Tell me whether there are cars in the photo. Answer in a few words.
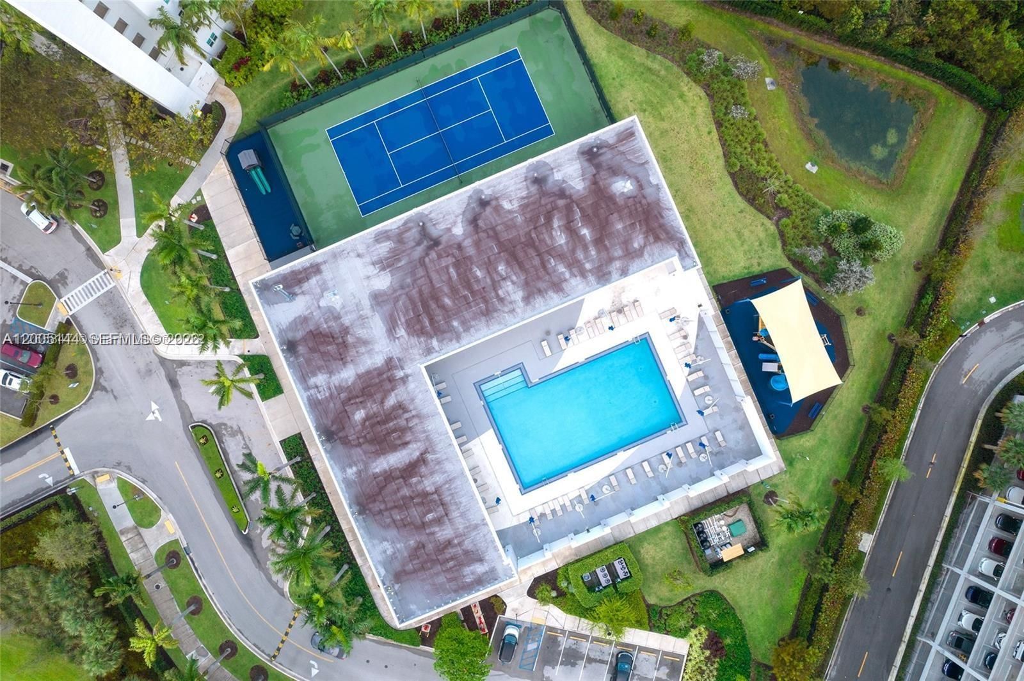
Yes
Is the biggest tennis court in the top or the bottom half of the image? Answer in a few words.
top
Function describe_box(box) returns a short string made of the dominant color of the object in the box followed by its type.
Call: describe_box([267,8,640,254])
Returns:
green tennis court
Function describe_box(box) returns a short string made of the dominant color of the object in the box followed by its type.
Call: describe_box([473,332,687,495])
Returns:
blue swimming pool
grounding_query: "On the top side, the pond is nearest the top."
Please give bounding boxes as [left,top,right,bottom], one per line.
[766,38,916,182]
